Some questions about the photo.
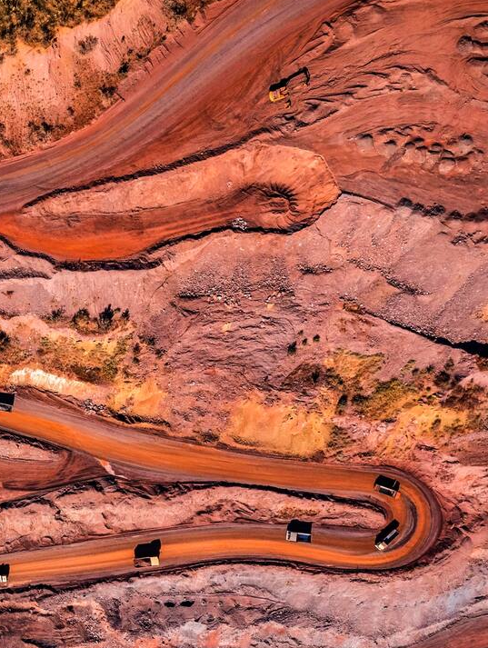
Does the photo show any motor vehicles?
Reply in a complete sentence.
Yes, a motor vehicle is visible in the scene.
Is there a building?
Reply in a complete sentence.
No, no building is visible in the view.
